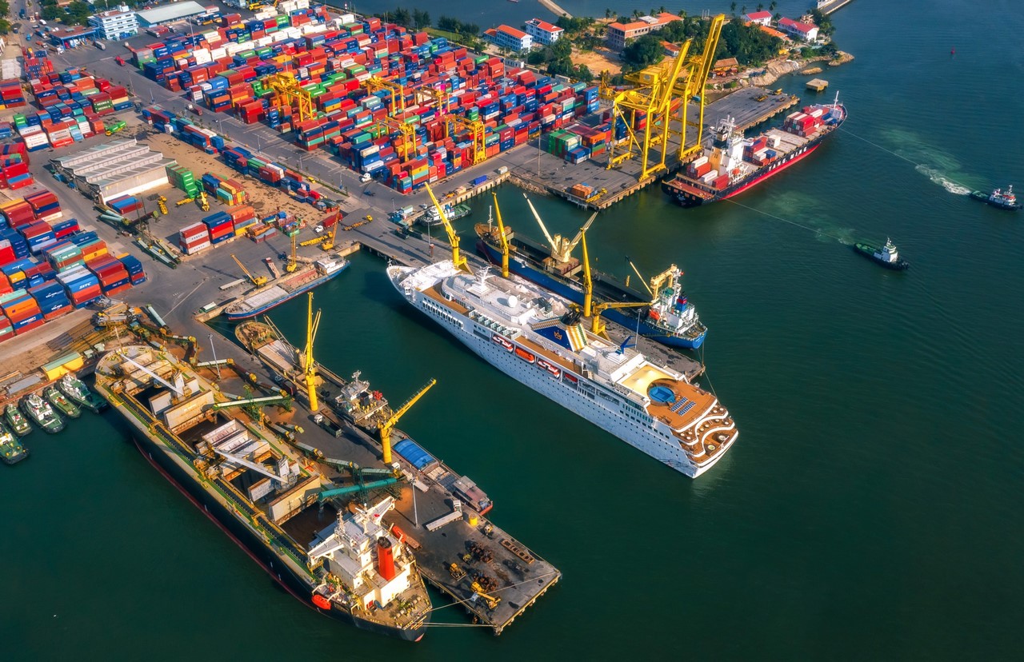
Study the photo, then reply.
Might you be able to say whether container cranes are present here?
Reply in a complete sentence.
Yes, the picture does show a container crane.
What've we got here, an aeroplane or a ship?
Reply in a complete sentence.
I can see a ship in this picture.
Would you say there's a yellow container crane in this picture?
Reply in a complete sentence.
Yes, there is a yellow container crane in the image.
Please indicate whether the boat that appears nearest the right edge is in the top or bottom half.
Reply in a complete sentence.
The boat that appears nearest the right edge is in the top half of the image.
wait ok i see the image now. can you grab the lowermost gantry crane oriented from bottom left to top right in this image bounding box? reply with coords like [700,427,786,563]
[375,377,439,466]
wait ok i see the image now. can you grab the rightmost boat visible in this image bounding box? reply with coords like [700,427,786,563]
[970,181,1024,209]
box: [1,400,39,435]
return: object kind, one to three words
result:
boat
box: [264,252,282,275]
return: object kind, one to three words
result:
vehicle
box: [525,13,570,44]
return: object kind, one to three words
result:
house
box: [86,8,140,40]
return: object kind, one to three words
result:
building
